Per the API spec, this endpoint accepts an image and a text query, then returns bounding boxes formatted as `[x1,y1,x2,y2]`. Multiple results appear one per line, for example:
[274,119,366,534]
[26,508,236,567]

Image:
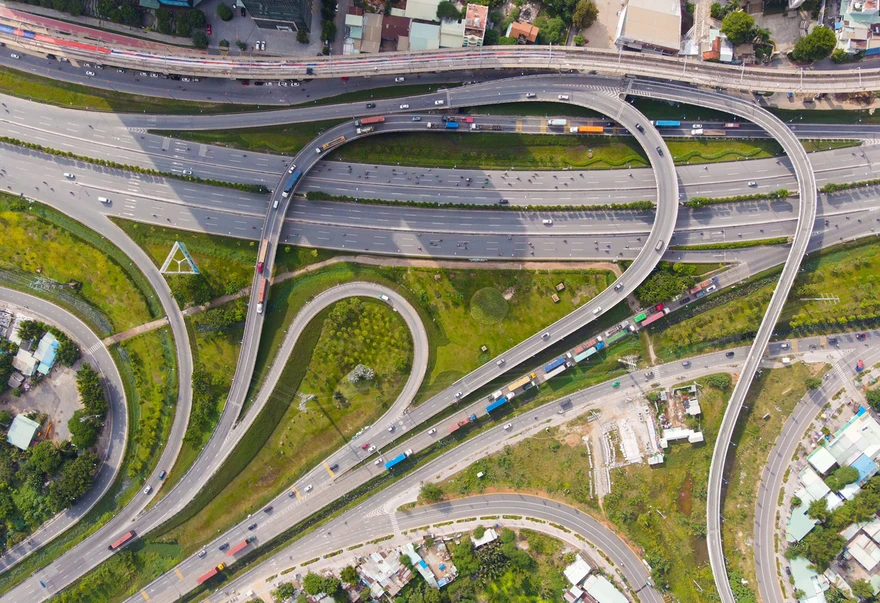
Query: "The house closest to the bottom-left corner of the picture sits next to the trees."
[7,412,46,449]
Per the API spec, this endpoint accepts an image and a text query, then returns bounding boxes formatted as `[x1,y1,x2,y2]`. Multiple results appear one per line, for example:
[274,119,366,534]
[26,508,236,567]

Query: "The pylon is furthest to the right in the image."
[817,290,846,308]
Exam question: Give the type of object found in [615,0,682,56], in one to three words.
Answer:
house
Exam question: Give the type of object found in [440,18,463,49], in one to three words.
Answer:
house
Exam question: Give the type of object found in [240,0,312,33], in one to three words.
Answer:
building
